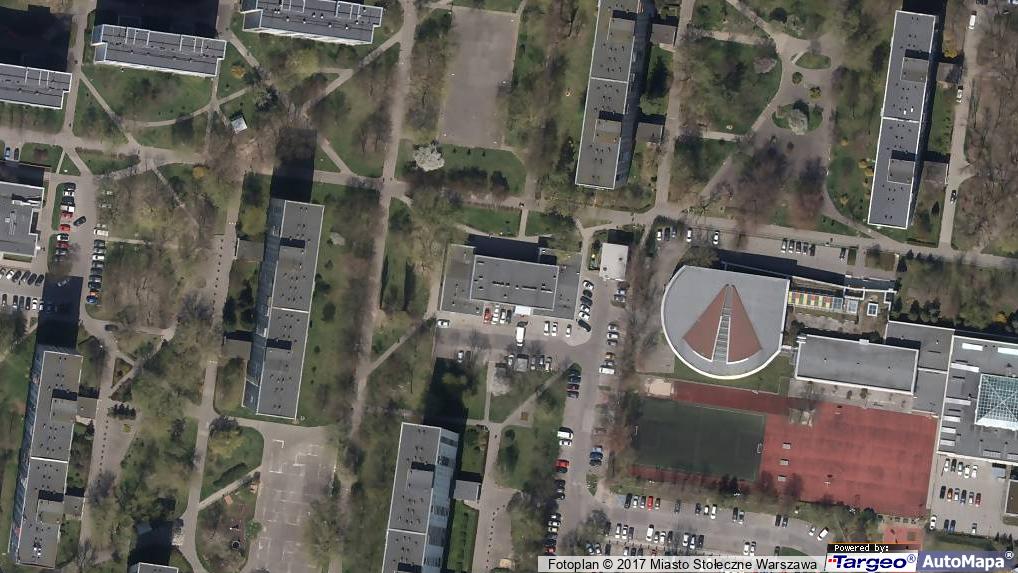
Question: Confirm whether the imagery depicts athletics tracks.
Yes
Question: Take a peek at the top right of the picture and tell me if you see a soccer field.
No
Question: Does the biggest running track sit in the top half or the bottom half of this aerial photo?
bottom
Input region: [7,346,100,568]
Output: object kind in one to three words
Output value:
building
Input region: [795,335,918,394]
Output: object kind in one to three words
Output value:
building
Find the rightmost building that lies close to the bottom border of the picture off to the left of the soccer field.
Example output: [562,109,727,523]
[382,423,480,573]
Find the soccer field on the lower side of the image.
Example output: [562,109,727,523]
[632,398,764,481]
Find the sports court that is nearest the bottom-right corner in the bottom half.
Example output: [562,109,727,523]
[874,525,924,573]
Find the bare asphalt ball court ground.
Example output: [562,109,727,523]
[438,5,517,147]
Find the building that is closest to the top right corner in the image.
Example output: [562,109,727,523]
[869,11,961,229]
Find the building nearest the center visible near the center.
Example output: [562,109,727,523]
[441,245,581,319]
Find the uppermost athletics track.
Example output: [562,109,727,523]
[643,380,824,415]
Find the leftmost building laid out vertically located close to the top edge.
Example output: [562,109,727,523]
[577,0,676,188]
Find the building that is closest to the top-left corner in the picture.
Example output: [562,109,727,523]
[0,64,72,108]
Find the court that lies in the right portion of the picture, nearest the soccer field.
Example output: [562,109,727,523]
[757,401,935,516]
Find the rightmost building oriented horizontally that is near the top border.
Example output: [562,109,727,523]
[241,0,383,45]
